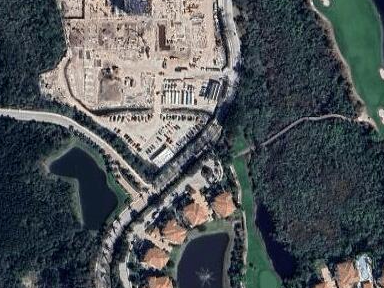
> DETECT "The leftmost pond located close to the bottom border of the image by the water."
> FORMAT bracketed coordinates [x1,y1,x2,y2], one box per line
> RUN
[178,231,230,288]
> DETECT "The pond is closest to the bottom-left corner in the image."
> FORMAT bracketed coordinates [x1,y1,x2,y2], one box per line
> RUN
[48,146,118,229]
